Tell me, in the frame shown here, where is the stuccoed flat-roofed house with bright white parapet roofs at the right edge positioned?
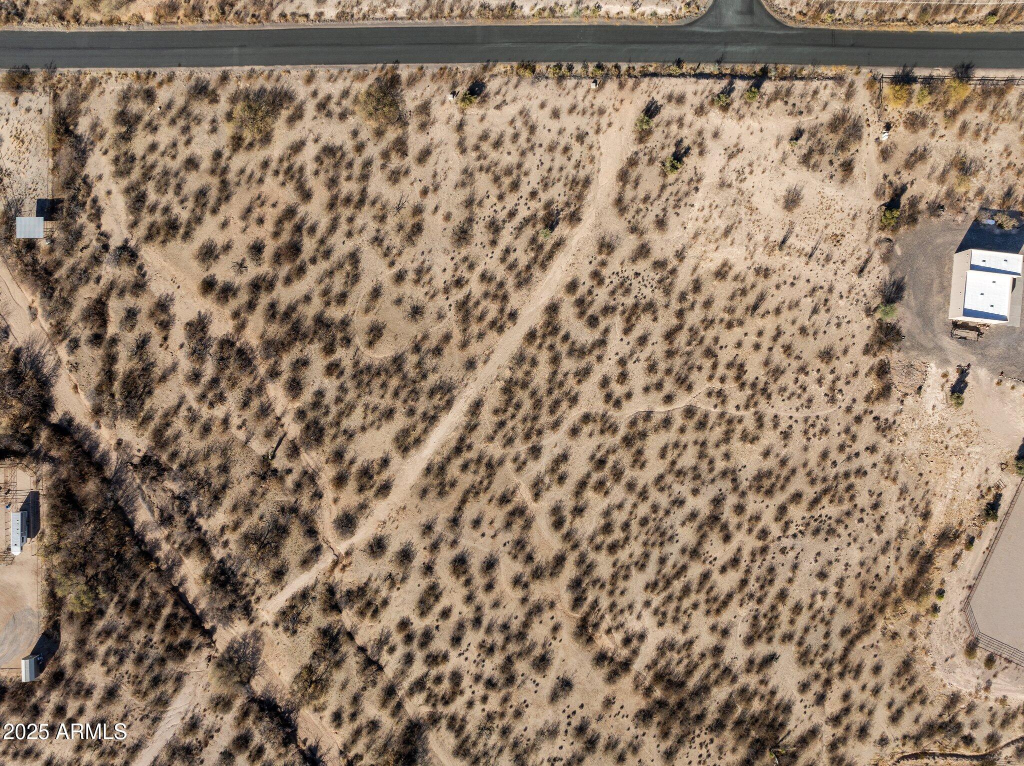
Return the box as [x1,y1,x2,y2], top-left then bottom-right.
[949,249,1024,322]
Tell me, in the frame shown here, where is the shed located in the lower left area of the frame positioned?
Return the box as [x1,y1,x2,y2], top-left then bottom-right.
[23,654,40,681]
